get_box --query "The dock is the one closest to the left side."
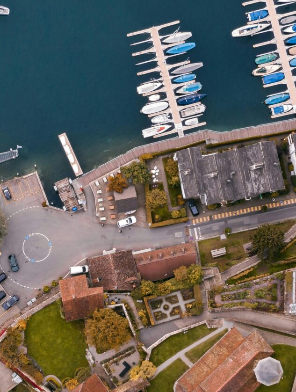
[53,178,83,209]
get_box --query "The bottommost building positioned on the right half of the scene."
[175,328,283,392]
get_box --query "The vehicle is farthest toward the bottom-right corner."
[185,198,200,218]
